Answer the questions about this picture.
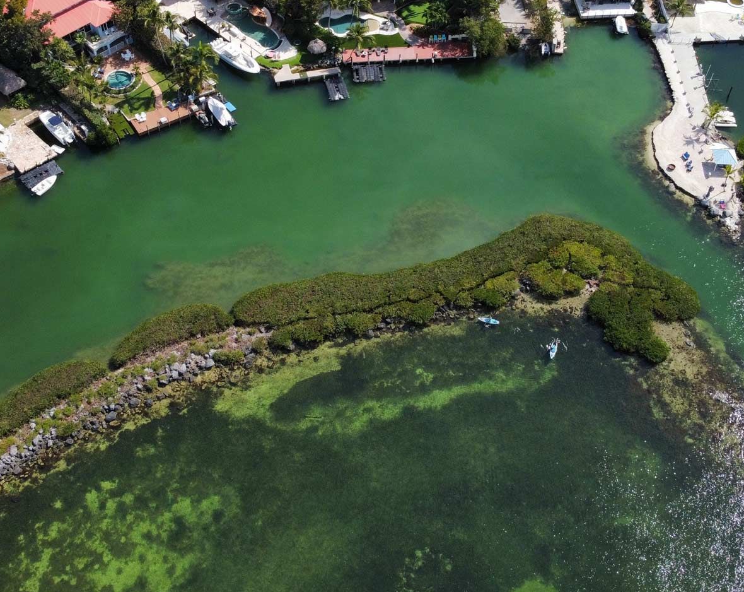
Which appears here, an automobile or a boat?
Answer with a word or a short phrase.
boat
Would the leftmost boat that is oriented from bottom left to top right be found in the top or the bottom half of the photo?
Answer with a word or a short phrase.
top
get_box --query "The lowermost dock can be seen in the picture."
[21,160,65,187]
